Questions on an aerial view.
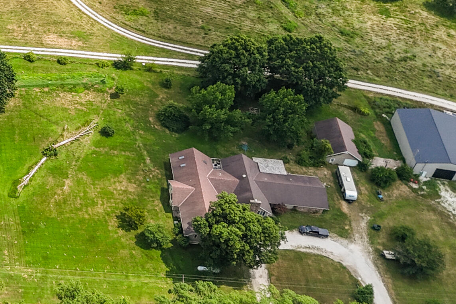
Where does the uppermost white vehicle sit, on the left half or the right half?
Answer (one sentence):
The uppermost white vehicle appears in the right half of the scene.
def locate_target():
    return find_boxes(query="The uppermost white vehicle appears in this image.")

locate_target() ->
[336,164,360,205]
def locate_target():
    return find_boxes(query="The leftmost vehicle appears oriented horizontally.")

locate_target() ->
[296,222,330,238]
